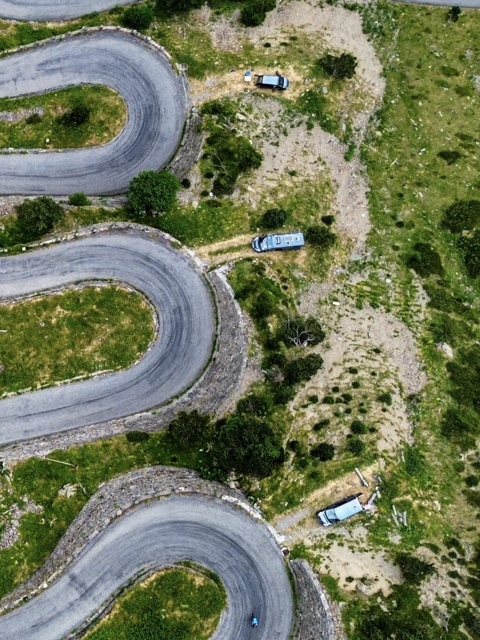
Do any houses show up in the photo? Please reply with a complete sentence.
No, I can't see a single house in this photo.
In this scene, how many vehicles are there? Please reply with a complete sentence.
The count of vehicles comes to 3.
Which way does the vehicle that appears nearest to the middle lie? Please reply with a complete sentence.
In this picture, the vehicle that appears nearest to the middle lies from left to right.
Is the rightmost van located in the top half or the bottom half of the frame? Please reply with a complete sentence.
The rightmost van sits in the bottom half of the picture.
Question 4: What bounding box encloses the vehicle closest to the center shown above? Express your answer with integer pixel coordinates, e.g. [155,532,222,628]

[249,233,308,253]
